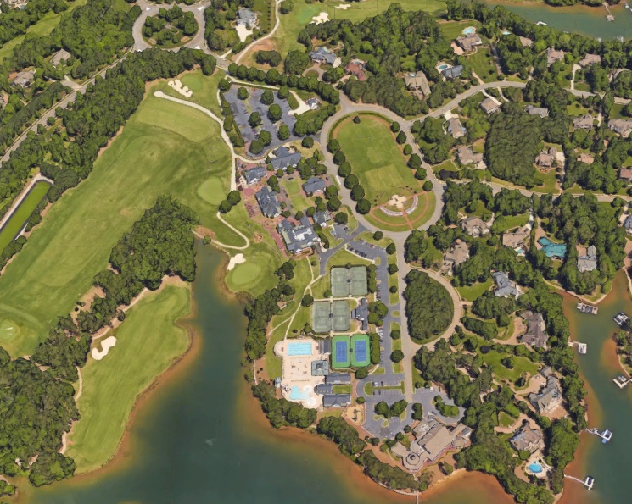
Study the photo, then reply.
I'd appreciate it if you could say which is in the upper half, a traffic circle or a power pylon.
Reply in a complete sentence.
The one visible in the upper half is a traffic circle.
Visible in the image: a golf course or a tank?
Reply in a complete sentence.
Of the two, only a golf course appears.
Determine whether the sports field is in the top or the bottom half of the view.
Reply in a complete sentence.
The sports field is in the top half of the image.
